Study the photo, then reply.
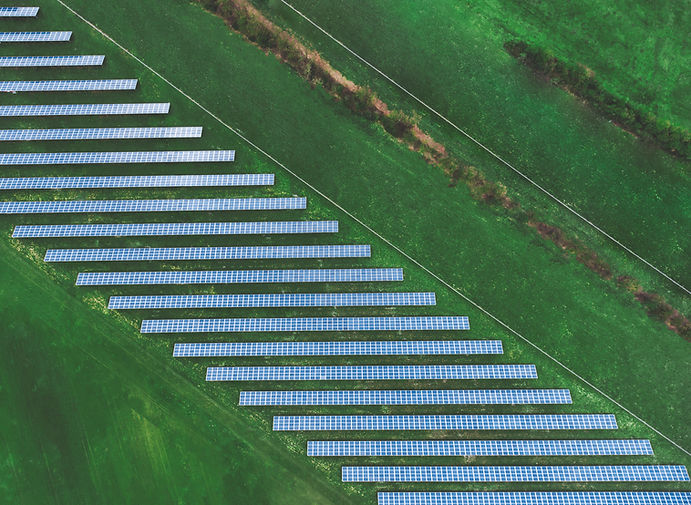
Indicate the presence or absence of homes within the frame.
No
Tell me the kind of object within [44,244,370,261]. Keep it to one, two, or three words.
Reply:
solar array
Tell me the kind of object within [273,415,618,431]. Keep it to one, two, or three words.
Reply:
solar array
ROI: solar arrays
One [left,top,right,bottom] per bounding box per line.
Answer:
[0,197,306,214]
[0,55,105,68]
[0,79,138,92]
[0,31,72,43]
[173,340,503,357]
[0,126,202,141]
[307,440,653,456]
[377,492,691,505]
[140,317,470,333]
[273,415,618,431]
[12,221,338,238]
[0,103,170,117]
[44,244,370,261]
[342,466,690,481]
[0,174,275,190]
[0,150,235,165]
[108,292,437,309]
[76,268,404,285]
[0,7,39,18]
[206,365,538,381]
[239,390,572,405]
